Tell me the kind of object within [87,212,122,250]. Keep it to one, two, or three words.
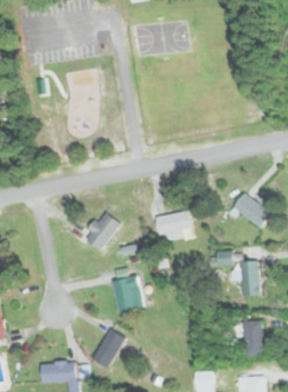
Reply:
house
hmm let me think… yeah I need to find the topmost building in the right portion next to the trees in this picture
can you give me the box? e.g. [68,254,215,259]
[226,192,267,225]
